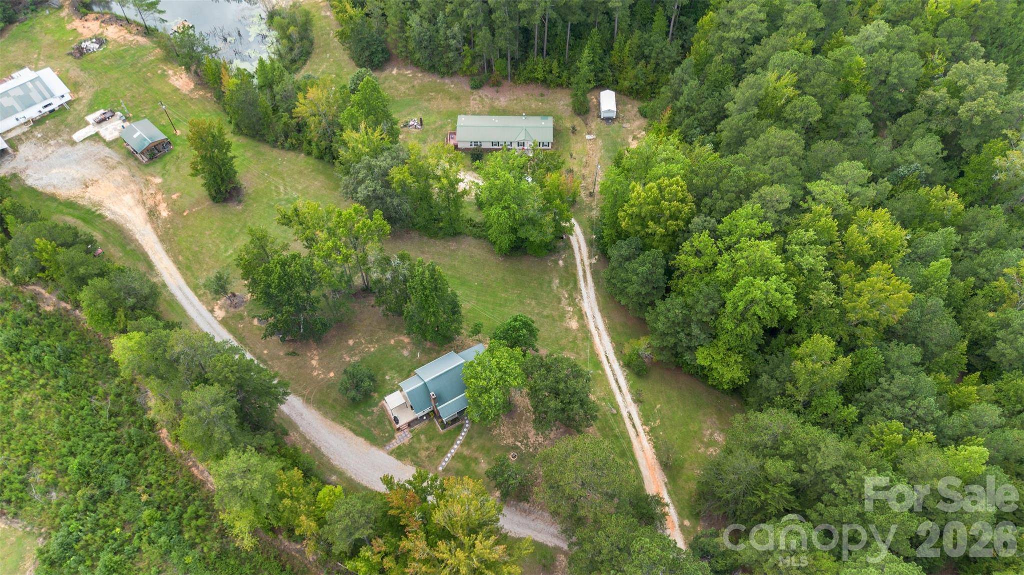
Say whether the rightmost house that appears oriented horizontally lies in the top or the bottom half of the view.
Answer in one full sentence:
The rightmost house that appears oriented horizontally is in the top half of the image.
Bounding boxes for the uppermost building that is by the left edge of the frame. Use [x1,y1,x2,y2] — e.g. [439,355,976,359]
[0,68,72,134]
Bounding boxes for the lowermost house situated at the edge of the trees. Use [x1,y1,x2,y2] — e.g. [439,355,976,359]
[381,344,489,432]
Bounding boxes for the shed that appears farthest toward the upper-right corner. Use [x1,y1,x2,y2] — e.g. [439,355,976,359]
[597,86,618,119]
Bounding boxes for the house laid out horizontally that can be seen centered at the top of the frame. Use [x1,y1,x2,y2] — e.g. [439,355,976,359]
[444,113,552,160]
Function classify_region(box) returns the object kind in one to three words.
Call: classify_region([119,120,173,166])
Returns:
building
